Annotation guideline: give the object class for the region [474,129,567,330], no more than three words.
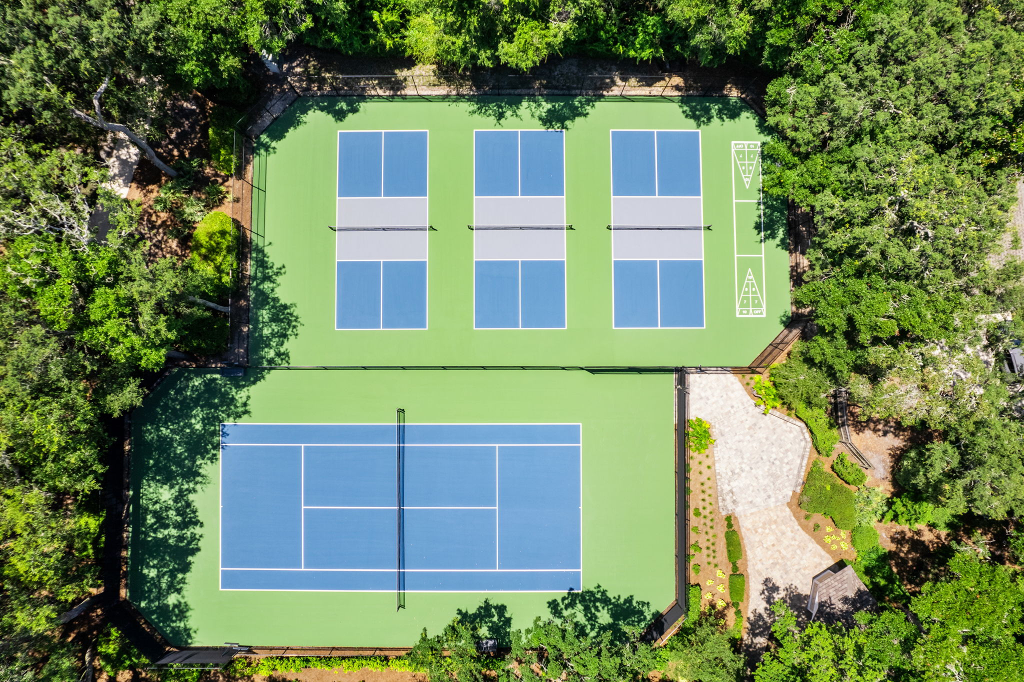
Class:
sports court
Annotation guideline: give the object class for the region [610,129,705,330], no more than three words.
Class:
sports court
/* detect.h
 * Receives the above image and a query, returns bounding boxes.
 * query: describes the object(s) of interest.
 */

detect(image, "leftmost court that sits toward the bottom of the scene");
[127,369,676,648]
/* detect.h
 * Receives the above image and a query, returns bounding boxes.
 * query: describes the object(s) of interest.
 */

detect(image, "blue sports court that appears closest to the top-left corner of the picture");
[336,130,428,330]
